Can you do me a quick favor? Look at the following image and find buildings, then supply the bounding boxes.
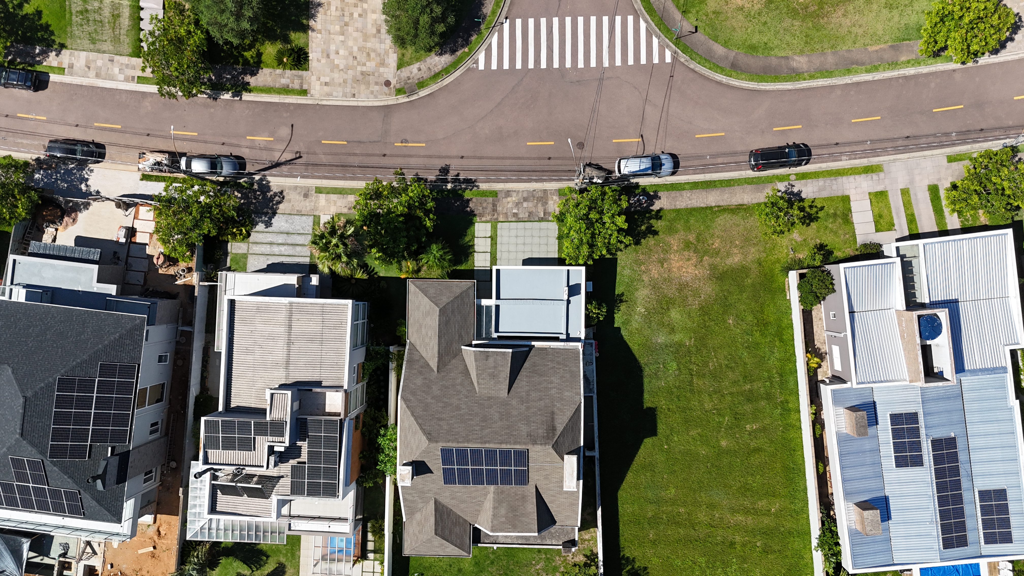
[186,273,372,544]
[397,267,596,558]
[0,254,183,544]
[811,228,1024,574]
